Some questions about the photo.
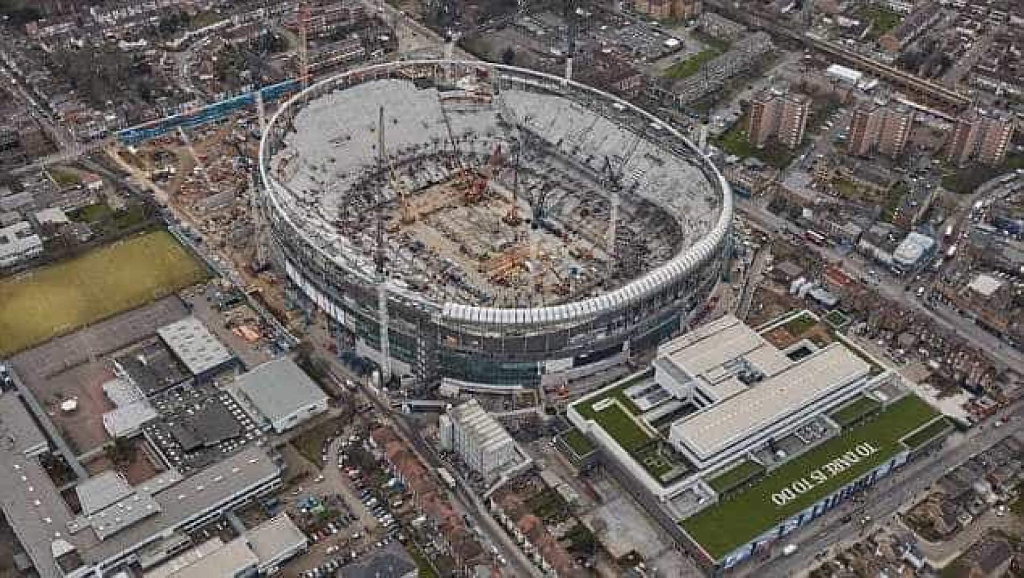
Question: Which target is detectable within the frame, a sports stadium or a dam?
sports stadium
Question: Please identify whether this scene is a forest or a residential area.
residential area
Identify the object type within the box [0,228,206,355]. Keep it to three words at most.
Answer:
sports field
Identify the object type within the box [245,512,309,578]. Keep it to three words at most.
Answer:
building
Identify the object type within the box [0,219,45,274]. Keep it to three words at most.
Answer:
building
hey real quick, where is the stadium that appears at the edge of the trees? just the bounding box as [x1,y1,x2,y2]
[257,59,734,396]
